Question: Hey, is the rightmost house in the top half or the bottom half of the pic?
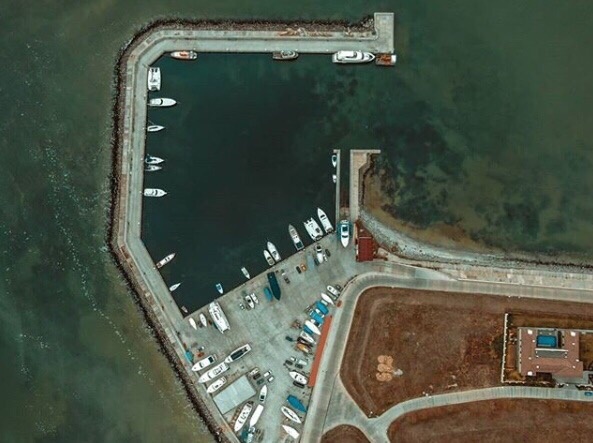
bottom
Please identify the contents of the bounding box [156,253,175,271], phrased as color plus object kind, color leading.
white boat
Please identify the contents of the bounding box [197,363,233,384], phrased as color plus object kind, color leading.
white boat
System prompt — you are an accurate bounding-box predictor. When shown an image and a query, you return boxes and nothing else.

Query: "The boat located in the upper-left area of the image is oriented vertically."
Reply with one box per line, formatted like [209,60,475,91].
[148,63,161,91]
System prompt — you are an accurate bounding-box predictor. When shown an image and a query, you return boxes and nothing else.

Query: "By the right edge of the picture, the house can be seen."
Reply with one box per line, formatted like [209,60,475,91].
[518,326,584,379]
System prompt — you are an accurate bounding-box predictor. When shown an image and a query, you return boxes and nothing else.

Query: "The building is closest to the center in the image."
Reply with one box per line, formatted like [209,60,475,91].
[358,237,374,261]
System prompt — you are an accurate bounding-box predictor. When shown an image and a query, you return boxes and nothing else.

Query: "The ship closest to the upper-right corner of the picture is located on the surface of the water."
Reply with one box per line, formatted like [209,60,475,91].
[374,53,397,66]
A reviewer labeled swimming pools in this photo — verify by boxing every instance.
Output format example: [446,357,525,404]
[537,335,557,347]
